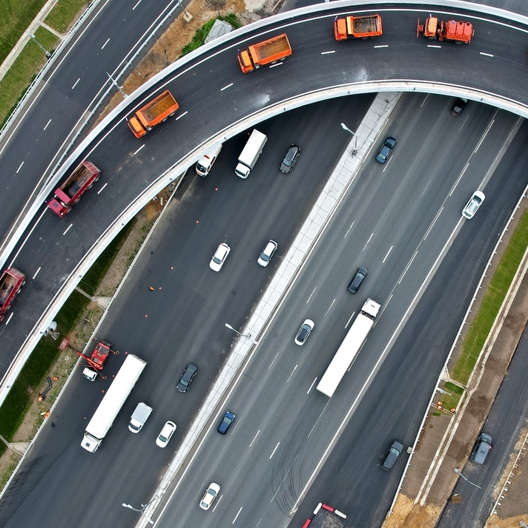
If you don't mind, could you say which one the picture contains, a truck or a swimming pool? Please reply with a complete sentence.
Looking from above, you can make out a truck.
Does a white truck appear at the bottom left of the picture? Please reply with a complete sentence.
Yes, you'll find a white truck at the bottom left of the picture.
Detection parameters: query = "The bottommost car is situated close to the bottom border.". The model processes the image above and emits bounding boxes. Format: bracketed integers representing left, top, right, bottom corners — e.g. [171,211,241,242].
[198,482,221,512]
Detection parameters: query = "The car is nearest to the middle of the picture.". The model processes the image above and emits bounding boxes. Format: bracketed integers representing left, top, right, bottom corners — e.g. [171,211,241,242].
[257,237,279,267]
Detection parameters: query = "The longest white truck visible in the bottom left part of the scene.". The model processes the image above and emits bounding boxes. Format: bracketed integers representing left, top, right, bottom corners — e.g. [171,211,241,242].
[78,353,149,454]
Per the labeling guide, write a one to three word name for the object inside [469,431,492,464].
car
